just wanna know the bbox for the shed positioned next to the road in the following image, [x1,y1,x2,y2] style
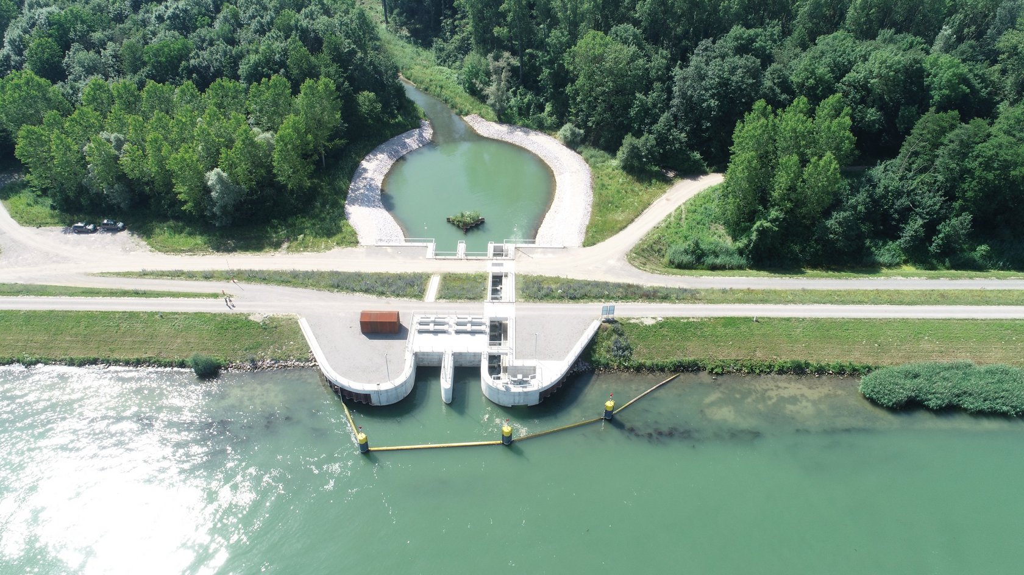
[359,309,398,333]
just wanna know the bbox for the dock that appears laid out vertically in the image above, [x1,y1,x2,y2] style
[439,349,453,404]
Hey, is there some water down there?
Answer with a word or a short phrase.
Yes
